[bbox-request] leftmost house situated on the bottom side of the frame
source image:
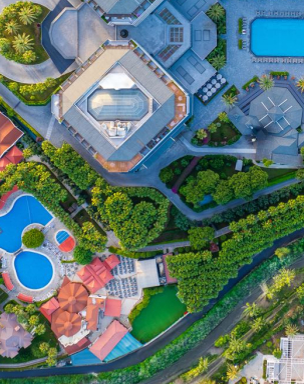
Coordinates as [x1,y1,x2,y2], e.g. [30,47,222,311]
[0,310,39,360]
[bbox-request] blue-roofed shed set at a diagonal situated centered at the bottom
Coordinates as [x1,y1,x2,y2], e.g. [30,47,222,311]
[104,329,144,362]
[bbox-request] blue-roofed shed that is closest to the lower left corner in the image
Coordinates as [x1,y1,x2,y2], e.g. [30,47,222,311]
[71,349,104,366]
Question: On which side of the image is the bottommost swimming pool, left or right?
left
